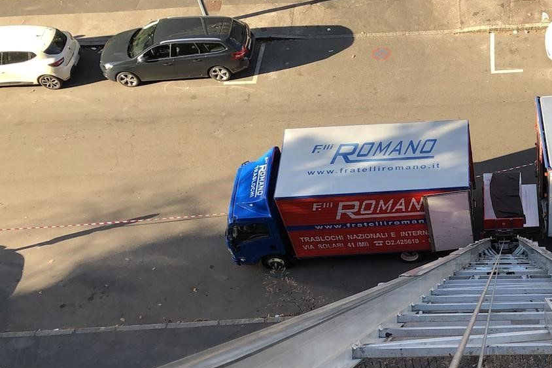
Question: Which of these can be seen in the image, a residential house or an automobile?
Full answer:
The image shows an automobile.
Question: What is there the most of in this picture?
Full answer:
For the most part, this view shows paved ground.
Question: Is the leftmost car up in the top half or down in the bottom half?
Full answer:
The top half of the photo is where the leftmost car is.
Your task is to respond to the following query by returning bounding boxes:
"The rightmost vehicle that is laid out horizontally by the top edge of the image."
[97,12,256,87]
